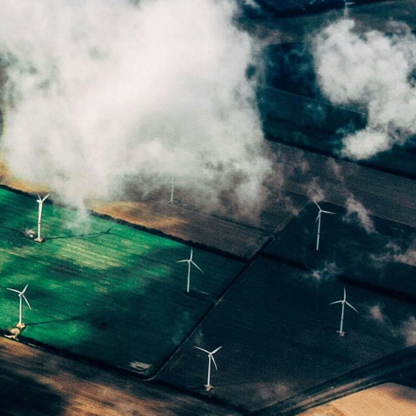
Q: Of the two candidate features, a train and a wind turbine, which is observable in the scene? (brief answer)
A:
wind turbine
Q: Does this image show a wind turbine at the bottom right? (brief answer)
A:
Yes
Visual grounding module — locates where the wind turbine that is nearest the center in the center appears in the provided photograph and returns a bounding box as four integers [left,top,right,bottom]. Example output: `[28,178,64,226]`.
[163,163,186,205]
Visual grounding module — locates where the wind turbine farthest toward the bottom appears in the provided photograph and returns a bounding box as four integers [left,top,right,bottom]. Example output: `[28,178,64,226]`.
[193,347,222,389]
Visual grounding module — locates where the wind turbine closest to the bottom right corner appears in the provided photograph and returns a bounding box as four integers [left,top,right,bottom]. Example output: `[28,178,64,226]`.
[328,289,354,335]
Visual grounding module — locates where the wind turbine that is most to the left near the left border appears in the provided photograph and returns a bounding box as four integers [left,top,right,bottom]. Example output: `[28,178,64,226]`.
[6,284,27,328]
